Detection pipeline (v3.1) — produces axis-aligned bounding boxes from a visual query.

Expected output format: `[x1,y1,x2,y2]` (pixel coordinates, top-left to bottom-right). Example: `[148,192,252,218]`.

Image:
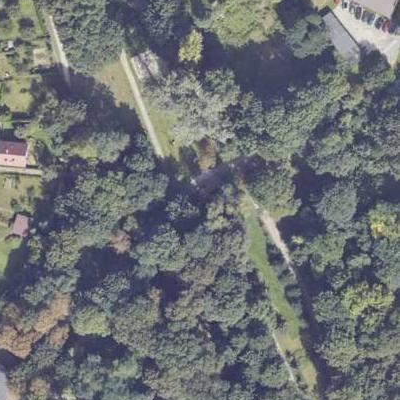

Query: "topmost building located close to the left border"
[0,140,29,170]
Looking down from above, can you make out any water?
No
